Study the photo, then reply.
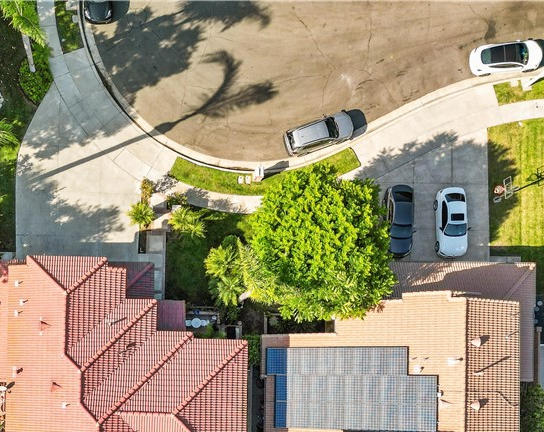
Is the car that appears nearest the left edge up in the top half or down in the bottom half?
top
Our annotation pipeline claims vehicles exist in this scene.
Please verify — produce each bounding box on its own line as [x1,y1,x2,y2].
[527,45,544,82]
[432,186,472,259]
[280,111,354,159]
[382,184,420,259]
[465,37,540,79]
[82,0,115,28]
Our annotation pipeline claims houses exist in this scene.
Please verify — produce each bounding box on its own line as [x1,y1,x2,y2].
[0,253,249,432]
[260,262,537,432]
